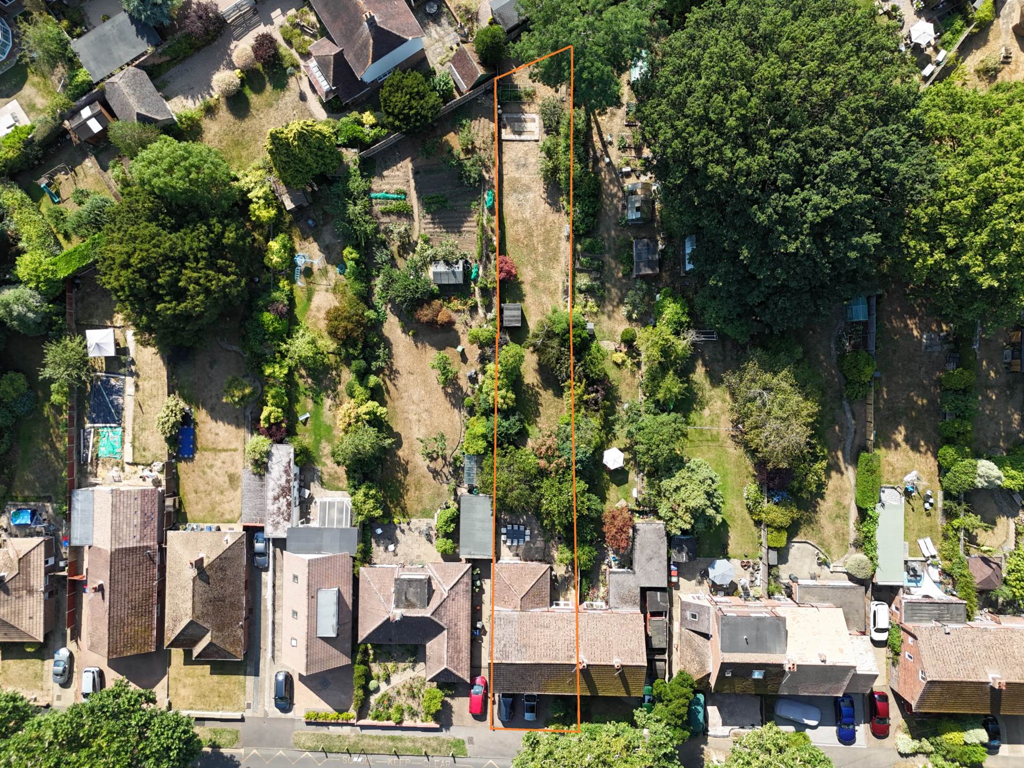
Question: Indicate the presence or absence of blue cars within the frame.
Yes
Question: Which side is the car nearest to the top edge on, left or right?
left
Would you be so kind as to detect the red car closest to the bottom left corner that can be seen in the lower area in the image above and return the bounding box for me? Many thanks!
[468,674,488,716]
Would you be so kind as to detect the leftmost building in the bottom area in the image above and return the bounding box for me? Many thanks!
[0,535,58,642]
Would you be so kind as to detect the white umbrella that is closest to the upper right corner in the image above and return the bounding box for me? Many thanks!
[907,19,935,46]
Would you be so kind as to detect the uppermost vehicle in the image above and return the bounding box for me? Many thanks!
[250,530,271,570]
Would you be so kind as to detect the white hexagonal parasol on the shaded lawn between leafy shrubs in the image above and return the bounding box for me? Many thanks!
[603,446,624,470]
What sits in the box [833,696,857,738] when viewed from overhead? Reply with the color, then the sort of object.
blue car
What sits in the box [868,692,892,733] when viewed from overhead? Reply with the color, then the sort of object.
red car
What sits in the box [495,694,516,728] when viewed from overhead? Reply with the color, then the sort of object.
black car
